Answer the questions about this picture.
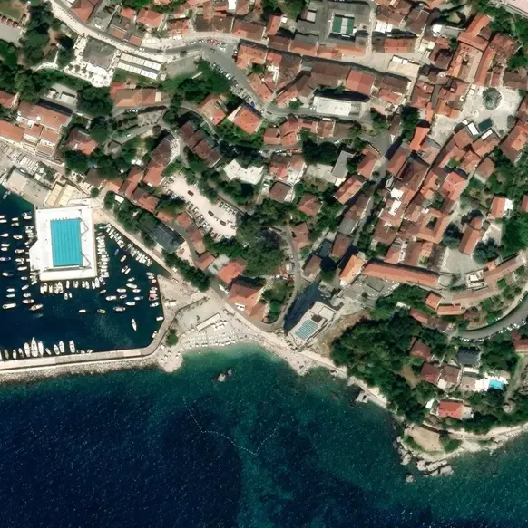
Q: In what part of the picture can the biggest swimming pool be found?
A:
left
